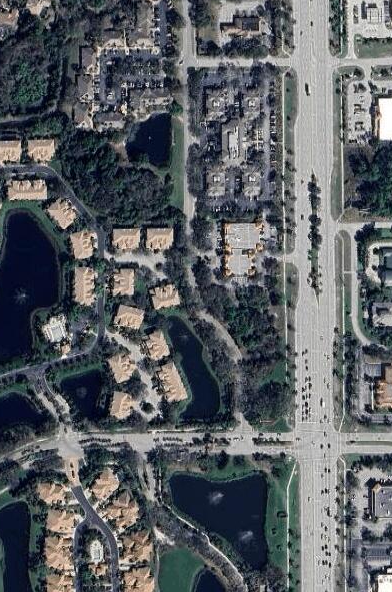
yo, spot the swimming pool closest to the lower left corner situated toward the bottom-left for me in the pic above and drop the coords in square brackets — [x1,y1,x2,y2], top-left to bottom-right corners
[90,540,104,562]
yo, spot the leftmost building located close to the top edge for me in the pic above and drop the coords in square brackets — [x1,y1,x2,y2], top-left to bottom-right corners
[0,8,20,29]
